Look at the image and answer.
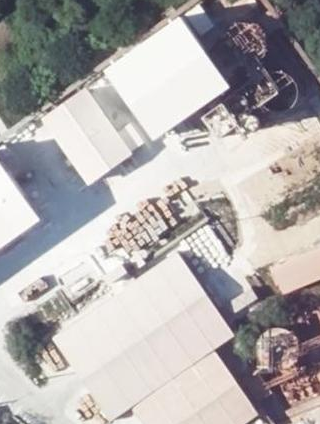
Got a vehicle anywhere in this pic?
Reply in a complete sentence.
Yes, the frame does contain a vehicle.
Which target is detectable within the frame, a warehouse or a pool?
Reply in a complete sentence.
The image shows a warehouse.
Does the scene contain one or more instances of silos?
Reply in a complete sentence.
Yes, looking at the shot, I can spot a silo.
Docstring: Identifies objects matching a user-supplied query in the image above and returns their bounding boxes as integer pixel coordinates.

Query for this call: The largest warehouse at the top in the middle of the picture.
[104,18,236,142]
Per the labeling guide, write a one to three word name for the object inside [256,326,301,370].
storage tank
